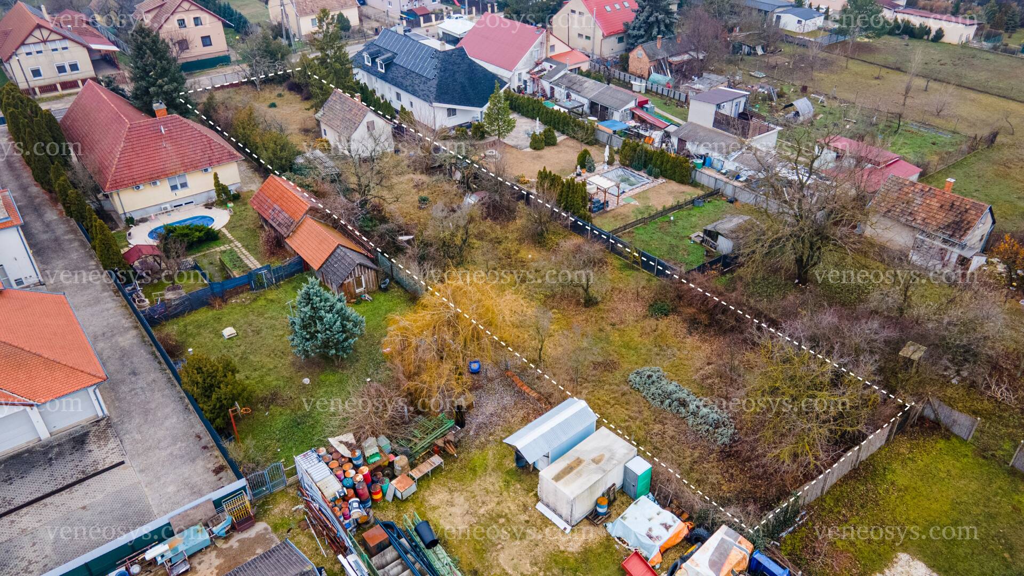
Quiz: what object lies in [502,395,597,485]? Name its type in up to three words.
shed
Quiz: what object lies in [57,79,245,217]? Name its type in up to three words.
house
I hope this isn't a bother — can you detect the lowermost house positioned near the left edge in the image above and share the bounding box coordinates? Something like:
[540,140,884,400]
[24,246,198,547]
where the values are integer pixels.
[0,293,119,465]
